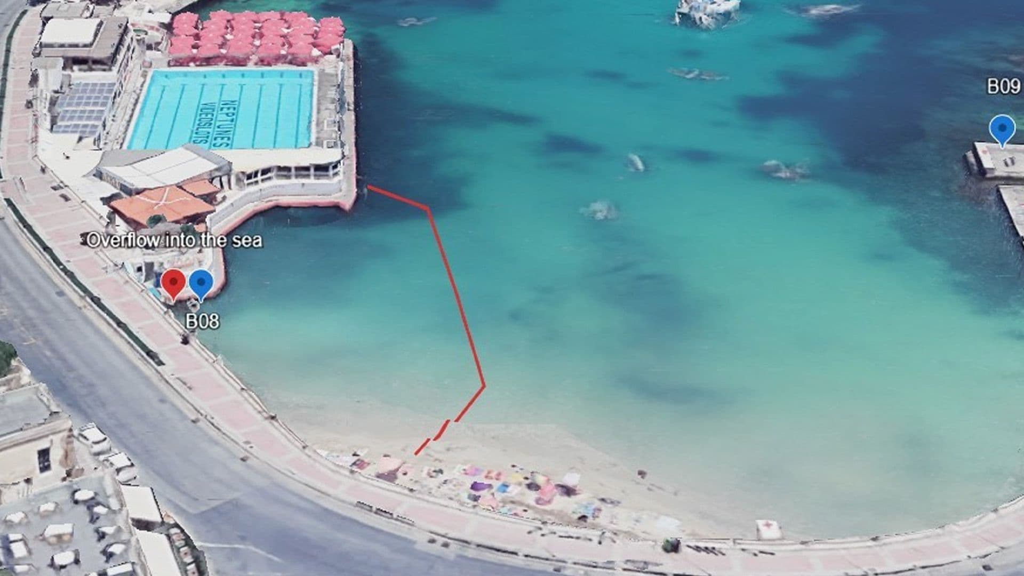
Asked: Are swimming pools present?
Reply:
Yes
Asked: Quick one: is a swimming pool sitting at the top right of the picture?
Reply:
No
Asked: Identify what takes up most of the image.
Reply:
water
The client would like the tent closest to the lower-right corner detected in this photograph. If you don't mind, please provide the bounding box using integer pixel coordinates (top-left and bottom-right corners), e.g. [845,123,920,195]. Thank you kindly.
[752,517,782,537]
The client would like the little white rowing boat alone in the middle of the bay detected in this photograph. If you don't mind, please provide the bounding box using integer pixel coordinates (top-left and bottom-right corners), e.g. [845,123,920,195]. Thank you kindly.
[628,154,648,170]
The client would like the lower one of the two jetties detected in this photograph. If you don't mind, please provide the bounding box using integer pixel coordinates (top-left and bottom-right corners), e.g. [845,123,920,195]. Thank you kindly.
[992,187,1024,254]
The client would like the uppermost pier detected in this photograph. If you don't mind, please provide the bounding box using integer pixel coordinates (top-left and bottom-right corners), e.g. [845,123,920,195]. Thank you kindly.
[961,142,1024,188]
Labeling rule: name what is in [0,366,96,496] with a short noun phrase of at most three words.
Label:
house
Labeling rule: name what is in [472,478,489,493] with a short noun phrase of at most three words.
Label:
umbrella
